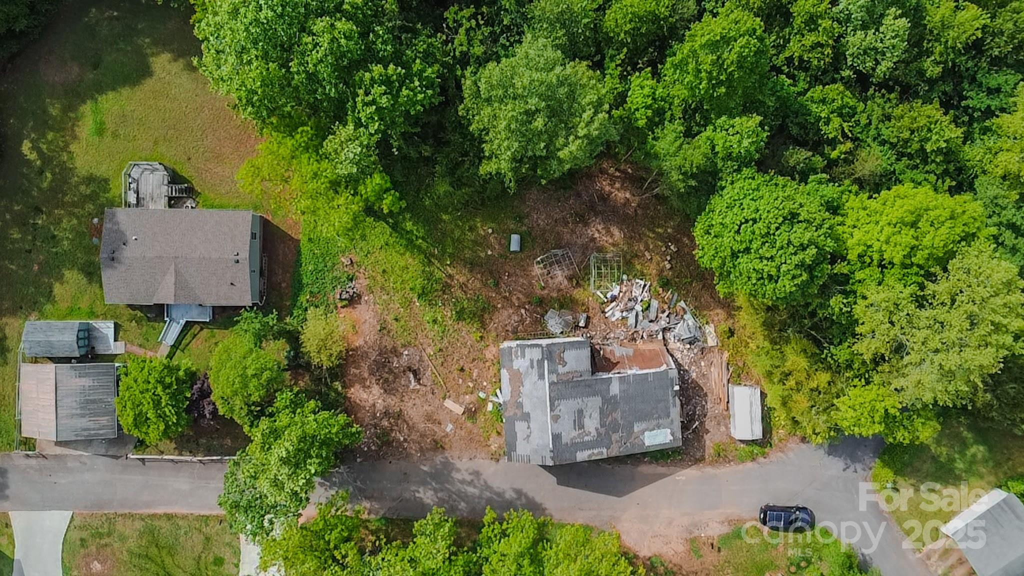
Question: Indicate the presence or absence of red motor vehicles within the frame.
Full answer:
No, the scene contains no red motor vehicle.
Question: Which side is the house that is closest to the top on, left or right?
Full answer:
The house that is closest to the top appears in the left half of the scene.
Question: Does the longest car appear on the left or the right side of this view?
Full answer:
The longest car appears in the right half of the scene.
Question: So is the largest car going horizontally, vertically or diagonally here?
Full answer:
I'd say the largest car is aligned horizontally in the picture.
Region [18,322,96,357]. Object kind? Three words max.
shed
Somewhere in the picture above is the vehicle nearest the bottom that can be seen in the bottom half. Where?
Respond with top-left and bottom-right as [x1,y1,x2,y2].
[758,503,816,534]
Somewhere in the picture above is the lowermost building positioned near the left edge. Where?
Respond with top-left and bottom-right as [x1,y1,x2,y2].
[20,363,133,444]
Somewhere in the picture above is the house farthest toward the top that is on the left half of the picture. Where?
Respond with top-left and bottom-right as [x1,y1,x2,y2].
[98,208,263,306]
